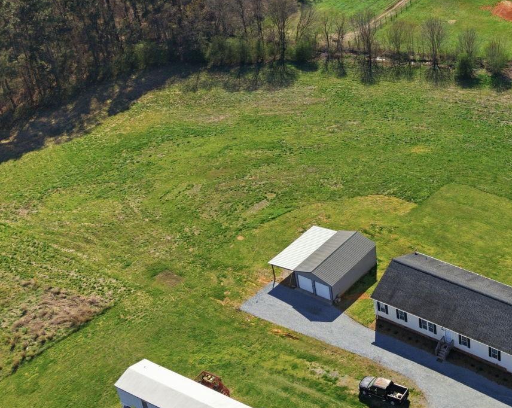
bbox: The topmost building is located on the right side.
[268,226,377,304]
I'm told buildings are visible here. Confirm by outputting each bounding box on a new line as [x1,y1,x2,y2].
[371,248,512,374]
[268,226,377,304]
[115,359,252,408]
